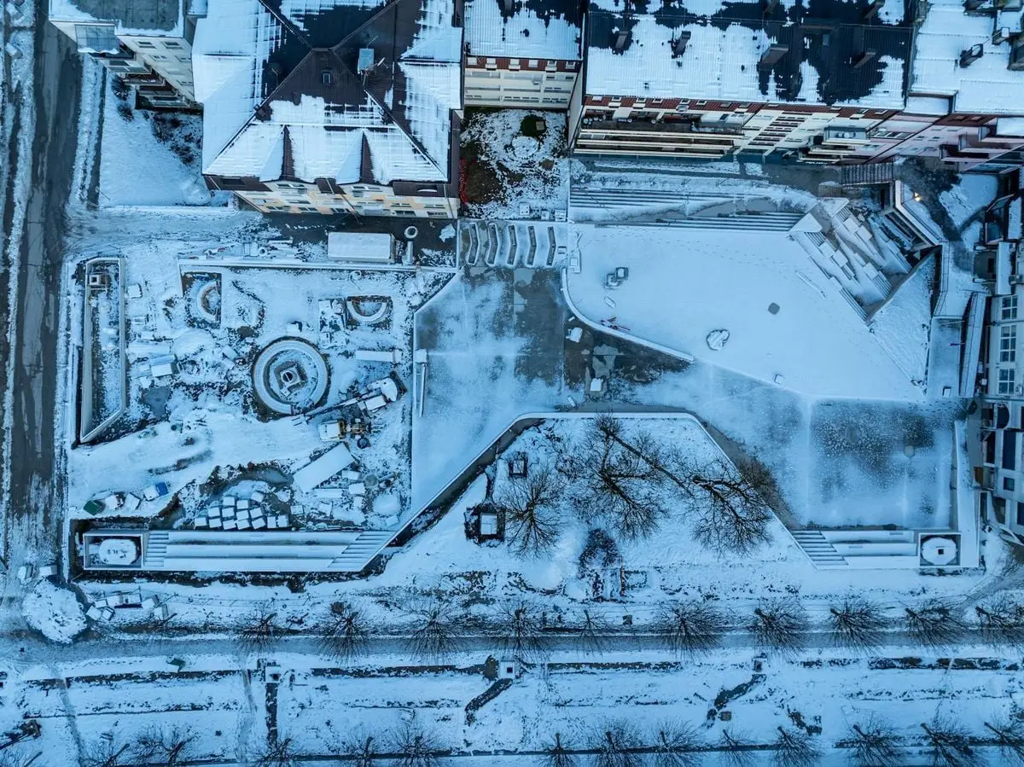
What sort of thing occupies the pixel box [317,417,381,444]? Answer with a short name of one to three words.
work vehicle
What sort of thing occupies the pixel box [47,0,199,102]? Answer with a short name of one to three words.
building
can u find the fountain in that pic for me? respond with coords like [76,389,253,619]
[252,338,331,417]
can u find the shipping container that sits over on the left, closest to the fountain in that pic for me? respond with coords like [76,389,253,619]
[326,232,397,265]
